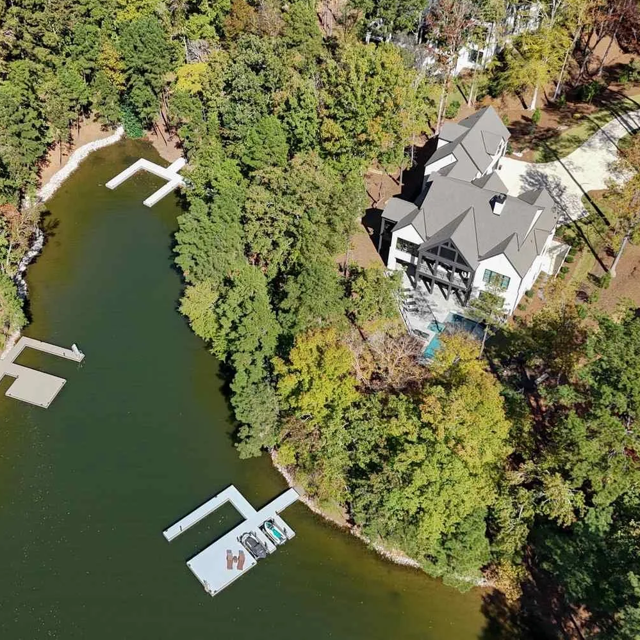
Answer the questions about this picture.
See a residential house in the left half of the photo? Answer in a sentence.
No, no residential house is visible in the left half of the photo.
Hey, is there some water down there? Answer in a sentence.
Yes, water can be seen from above here.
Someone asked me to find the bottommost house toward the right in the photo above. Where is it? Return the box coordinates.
[379,101,568,314]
